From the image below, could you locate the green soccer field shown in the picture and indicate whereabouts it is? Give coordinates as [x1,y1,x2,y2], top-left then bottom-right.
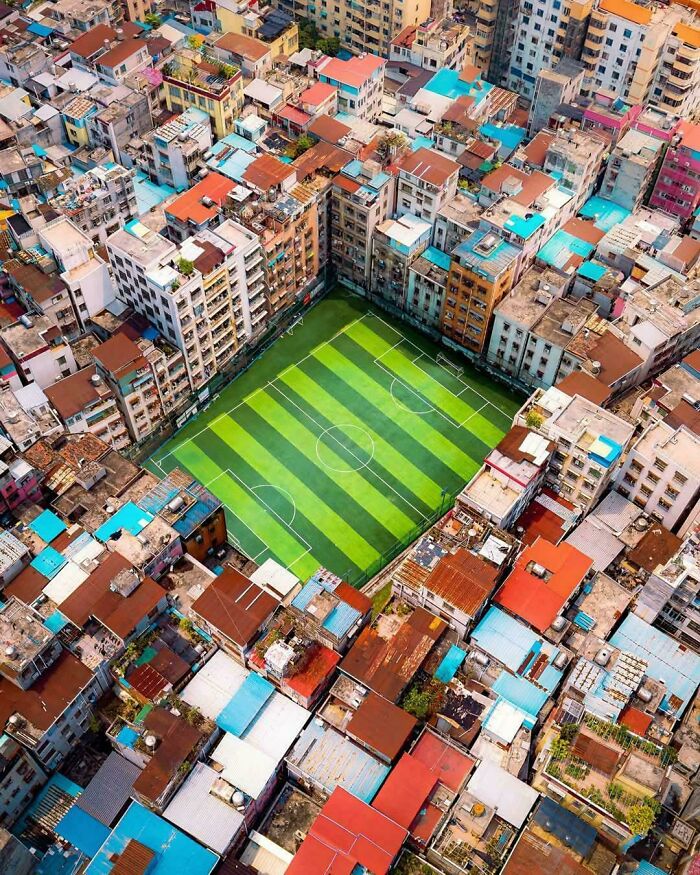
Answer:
[123,285,520,592]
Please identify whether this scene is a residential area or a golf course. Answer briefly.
residential area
